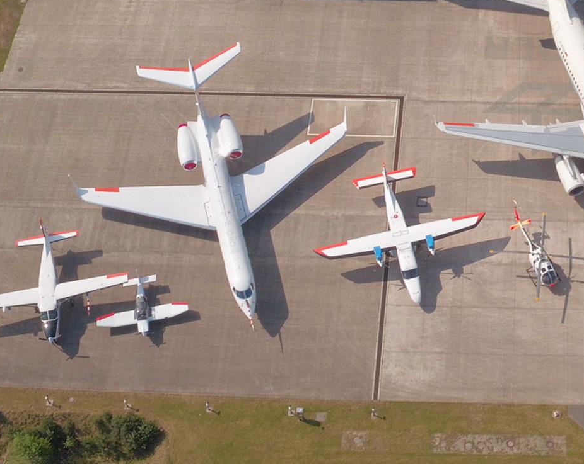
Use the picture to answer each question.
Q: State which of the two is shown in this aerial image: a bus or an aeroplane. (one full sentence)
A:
Of the two, only an aeroplane appears.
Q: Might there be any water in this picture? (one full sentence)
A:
No, there's no water in this view.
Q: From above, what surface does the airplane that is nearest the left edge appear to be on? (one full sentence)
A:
You can see the airplane that is nearest the left edge positioned on the apron.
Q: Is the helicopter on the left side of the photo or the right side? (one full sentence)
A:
It is on the right.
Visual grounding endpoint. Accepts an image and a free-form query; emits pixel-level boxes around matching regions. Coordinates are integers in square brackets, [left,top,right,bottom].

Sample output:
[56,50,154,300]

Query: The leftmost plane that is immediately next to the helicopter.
[313,158,485,306]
